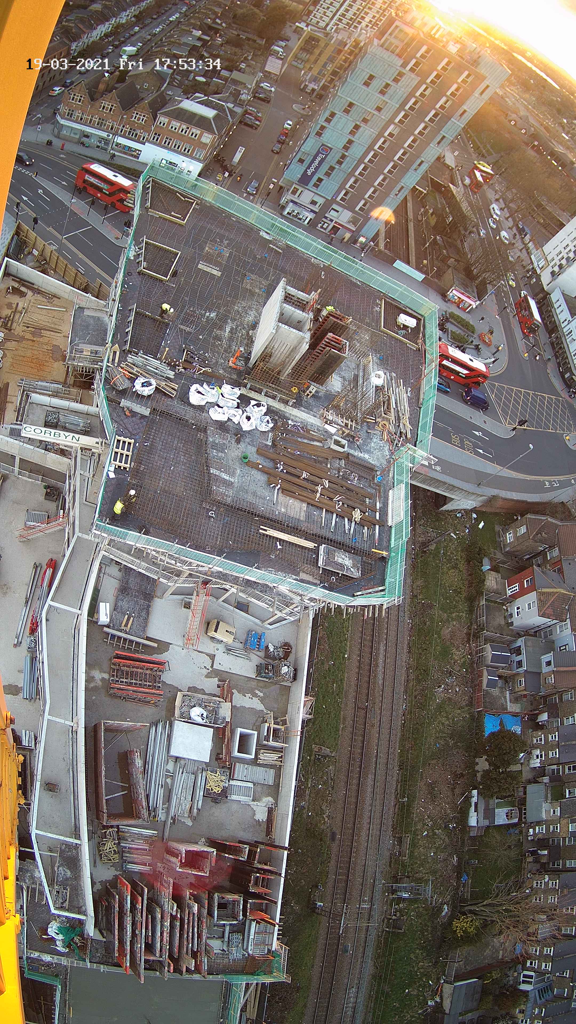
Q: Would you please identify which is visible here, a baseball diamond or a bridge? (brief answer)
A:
bridge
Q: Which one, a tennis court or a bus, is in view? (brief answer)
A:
bus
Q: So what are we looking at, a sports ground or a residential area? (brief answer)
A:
residential area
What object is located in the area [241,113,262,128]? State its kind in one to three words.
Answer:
car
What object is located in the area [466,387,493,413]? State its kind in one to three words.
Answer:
vehicle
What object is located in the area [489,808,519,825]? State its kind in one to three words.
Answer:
shed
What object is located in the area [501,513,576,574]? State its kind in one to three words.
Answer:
house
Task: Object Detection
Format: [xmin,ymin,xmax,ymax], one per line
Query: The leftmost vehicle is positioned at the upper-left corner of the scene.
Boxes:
[18,150,41,166]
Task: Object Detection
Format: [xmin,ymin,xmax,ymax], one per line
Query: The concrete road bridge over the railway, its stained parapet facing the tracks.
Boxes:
[406,462,493,521]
